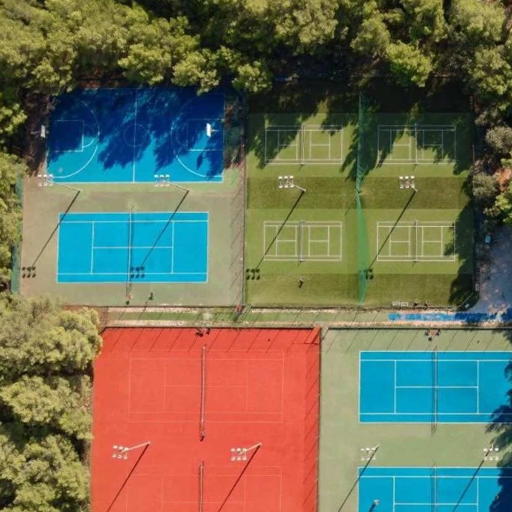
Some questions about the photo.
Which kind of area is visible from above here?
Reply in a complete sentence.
It's a sports ground.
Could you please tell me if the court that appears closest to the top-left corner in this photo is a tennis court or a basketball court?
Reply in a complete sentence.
The court that appears closest to the top-left corner can be classified as a basketball court.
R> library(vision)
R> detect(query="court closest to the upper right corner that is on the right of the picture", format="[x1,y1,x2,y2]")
[378,126,456,163]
